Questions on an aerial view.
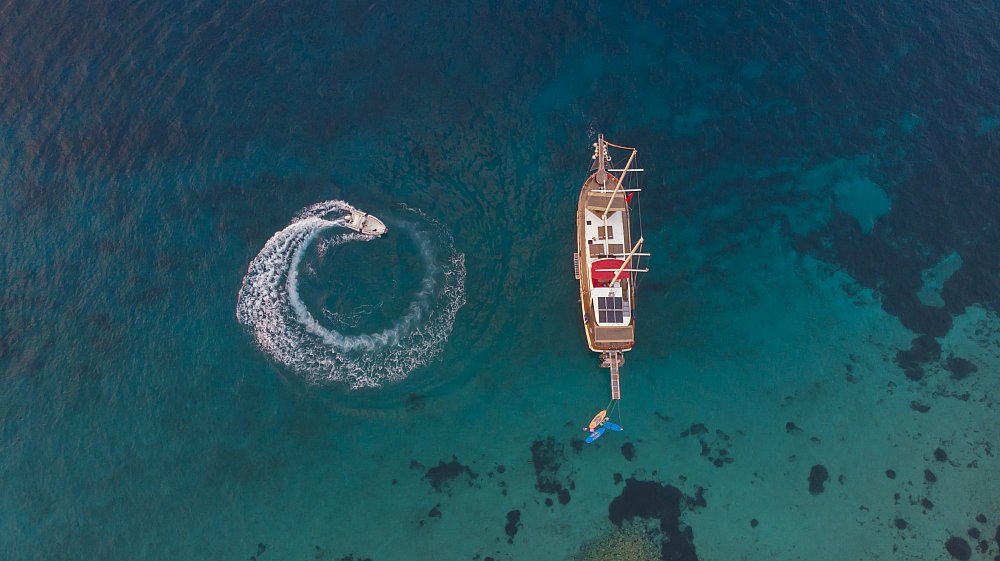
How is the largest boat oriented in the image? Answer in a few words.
up and down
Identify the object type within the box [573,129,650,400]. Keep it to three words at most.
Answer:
boat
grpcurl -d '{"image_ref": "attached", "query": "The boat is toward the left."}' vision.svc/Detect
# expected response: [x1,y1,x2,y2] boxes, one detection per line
[344,210,387,231]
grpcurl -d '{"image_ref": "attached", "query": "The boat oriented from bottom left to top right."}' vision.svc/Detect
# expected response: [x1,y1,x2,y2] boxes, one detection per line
[590,410,606,429]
